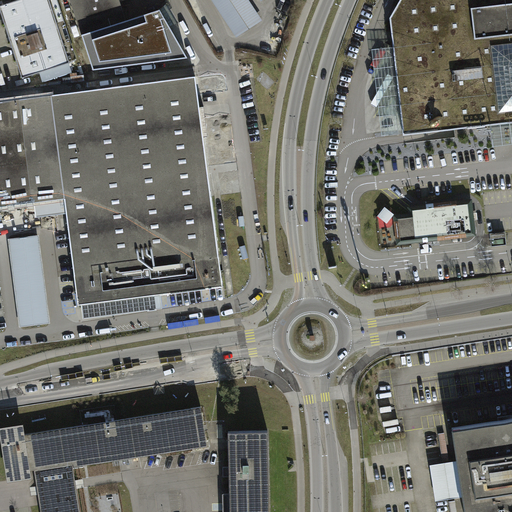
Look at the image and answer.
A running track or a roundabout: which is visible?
roundabout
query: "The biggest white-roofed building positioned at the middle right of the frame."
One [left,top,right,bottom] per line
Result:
[394,200,476,246]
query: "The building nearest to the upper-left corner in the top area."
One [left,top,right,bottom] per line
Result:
[0,0,70,78]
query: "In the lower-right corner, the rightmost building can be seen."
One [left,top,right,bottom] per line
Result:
[449,417,512,512]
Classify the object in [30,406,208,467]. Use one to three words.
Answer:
building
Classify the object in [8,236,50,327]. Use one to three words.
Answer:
shed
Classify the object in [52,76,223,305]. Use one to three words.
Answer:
building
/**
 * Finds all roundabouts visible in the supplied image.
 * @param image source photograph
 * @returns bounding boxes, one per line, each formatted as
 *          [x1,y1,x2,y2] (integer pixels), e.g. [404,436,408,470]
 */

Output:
[273,298,352,376]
